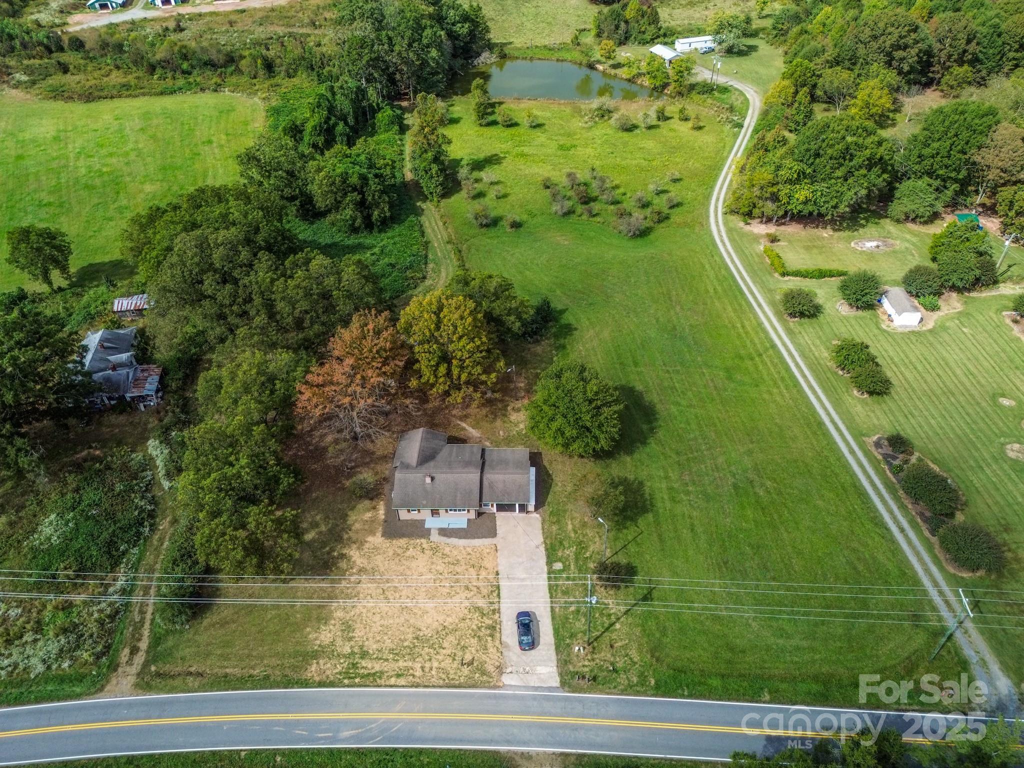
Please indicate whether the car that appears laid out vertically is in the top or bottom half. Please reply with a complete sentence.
You can find the car that appears laid out vertically in the bottom half.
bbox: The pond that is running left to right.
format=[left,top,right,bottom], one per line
[452,60,664,101]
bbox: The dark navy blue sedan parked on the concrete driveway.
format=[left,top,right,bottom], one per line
[514,610,535,651]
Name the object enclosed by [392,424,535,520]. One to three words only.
house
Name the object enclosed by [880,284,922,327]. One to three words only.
shed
